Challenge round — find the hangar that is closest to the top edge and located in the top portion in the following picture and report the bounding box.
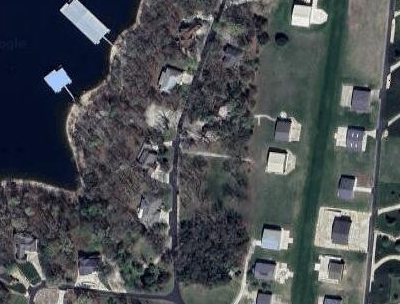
[292,5,311,27]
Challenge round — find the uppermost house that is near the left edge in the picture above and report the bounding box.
[15,235,37,260]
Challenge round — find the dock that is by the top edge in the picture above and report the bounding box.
[62,0,114,48]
